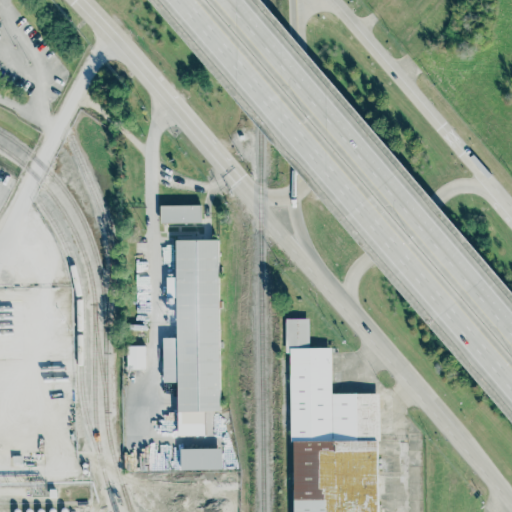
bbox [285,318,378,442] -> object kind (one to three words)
building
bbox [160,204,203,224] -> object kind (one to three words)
building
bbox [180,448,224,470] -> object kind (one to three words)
shed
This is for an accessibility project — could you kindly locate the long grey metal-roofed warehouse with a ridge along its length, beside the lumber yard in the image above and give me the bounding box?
[163,240,221,412]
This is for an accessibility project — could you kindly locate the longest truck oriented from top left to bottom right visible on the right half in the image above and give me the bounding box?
[464,148,493,176]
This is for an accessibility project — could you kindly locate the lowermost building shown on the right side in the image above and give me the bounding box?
[293,442,378,512]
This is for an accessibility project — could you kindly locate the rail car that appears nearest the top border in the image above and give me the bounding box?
[70,264,82,298]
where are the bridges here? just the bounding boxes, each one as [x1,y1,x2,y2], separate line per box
[149,0,512,422]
